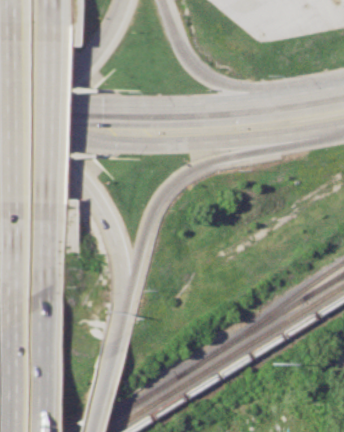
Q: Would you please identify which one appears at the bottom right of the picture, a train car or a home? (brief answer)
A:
train car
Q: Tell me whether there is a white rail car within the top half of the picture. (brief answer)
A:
No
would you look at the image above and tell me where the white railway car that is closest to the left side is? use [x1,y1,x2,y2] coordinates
[124,415,160,432]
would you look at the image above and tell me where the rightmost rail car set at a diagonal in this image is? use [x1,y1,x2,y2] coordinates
[318,296,344,318]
